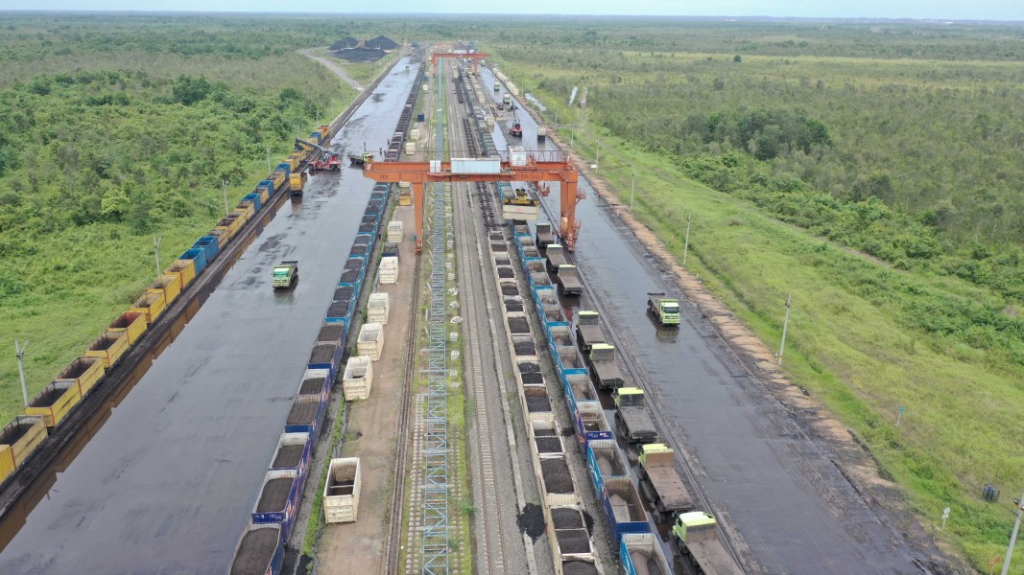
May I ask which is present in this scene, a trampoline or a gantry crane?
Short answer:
gantry crane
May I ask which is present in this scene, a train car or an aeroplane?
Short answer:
train car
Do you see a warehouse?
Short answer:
No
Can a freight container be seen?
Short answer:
Yes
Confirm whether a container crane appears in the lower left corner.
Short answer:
No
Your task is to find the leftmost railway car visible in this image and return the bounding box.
[0,437,48,491]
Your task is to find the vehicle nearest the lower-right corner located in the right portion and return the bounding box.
[669,511,730,575]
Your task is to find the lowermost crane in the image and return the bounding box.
[362,139,589,250]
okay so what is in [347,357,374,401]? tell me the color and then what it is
white shipping container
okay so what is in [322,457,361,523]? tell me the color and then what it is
white shipping container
